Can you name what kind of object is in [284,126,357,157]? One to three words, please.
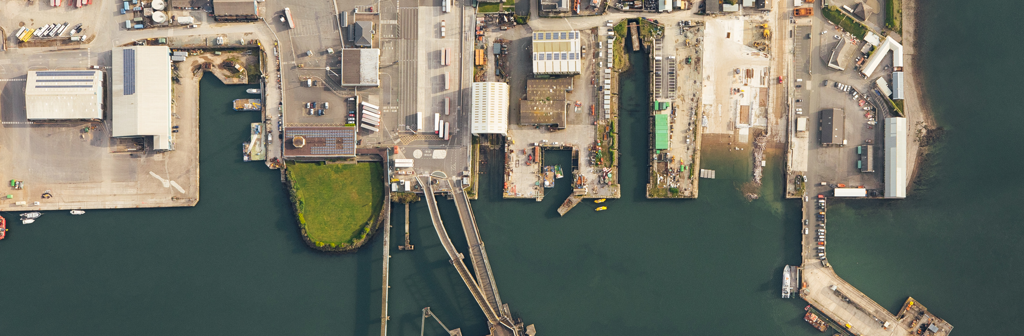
building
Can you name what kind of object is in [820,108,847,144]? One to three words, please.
shed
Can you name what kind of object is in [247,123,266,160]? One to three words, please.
ship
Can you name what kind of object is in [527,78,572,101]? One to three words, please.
shed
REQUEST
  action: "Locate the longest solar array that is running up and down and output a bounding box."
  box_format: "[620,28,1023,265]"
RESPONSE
[123,48,135,95]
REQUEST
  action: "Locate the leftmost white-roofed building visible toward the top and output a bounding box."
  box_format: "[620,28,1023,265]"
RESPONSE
[26,70,104,120]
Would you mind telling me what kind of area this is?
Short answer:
port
